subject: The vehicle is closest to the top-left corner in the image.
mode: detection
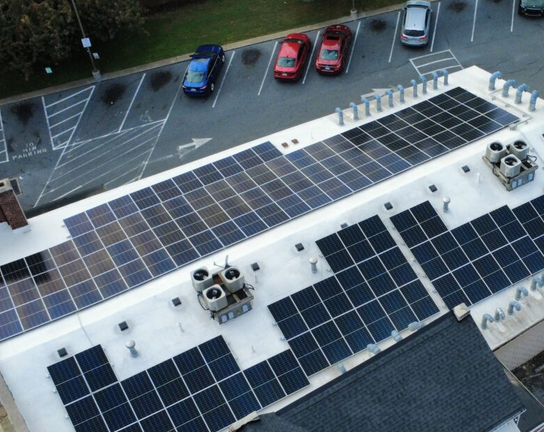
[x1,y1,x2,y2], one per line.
[178,45,227,98]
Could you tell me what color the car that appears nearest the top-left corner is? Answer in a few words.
blue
